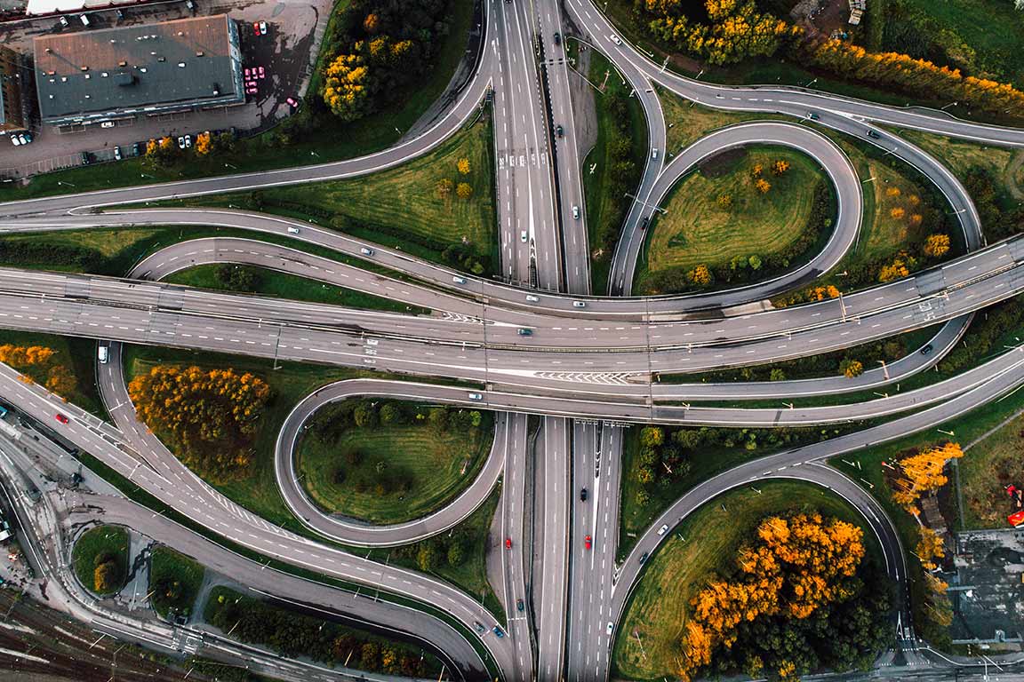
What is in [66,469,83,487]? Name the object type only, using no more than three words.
vehicle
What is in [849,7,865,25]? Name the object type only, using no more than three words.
vehicle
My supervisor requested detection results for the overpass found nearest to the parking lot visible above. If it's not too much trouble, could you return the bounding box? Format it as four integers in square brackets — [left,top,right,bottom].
[89,278,165,348]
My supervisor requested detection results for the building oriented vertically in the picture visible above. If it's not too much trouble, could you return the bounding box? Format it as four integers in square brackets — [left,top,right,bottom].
[0,47,39,138]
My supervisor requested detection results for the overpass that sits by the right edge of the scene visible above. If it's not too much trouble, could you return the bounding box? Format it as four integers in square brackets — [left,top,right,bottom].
[937,243,1019,316]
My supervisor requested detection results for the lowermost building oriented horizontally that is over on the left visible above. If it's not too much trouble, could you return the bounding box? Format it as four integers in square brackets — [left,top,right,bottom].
[33,13,246,127]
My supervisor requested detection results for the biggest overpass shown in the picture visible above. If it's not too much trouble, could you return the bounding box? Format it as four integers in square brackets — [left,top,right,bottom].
[430,279,659,421]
